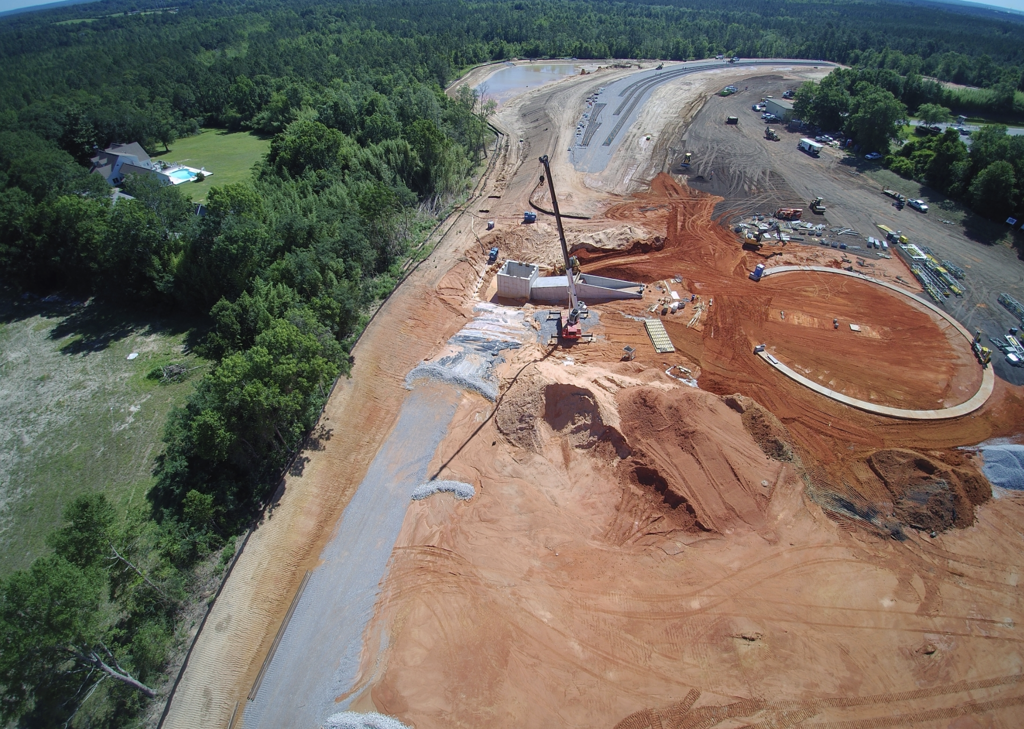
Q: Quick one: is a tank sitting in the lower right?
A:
No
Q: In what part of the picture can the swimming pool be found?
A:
top left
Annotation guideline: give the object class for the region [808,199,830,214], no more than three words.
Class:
work vehicle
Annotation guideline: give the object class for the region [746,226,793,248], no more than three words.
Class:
work vehicle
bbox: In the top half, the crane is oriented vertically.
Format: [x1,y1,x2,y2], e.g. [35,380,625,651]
[531,154,597,341]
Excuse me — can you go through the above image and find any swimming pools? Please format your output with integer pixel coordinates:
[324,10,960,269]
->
[165,163,213,184]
